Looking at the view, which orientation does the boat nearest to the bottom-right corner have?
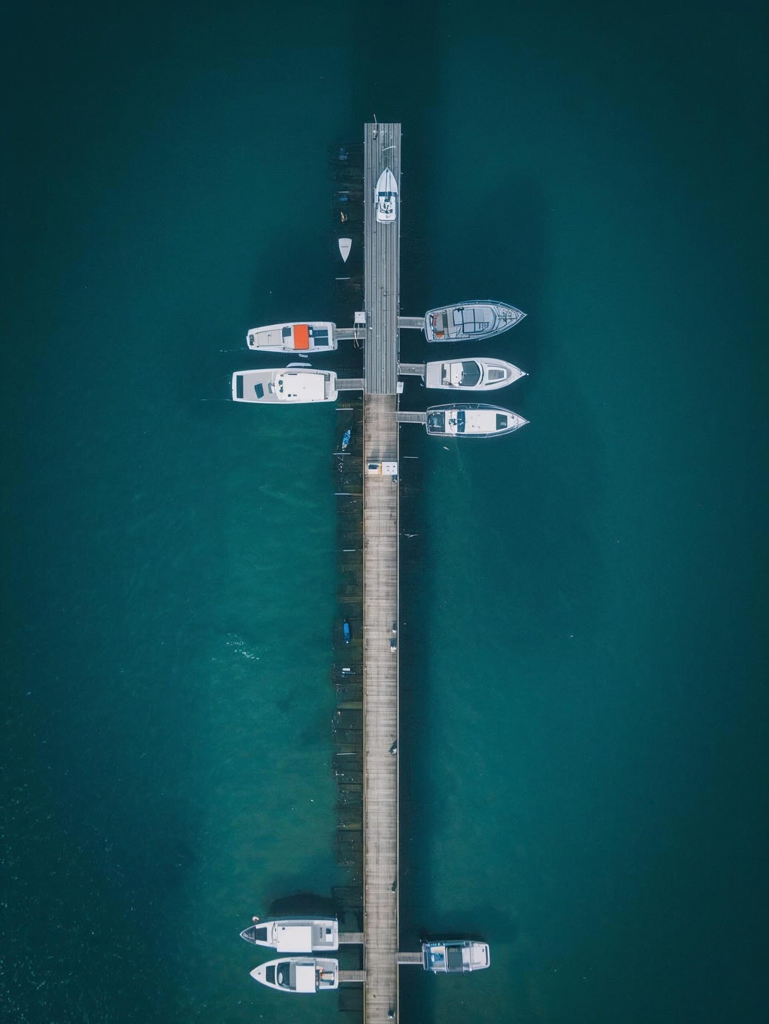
from left to right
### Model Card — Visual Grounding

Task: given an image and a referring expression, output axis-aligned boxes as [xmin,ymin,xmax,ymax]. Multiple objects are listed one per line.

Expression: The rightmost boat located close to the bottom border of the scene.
[406,934,490,973]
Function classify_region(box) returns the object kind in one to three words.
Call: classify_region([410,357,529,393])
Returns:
boat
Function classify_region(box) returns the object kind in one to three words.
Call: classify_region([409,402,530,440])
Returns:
boat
